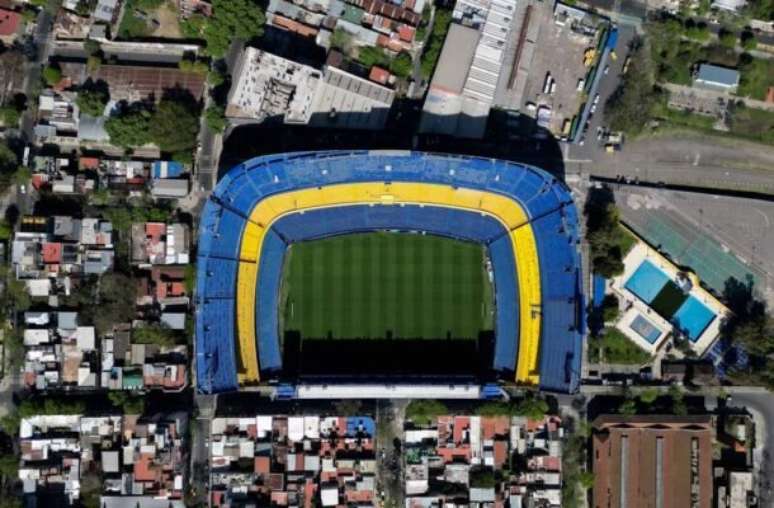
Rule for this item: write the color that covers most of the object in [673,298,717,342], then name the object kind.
blue swimming pool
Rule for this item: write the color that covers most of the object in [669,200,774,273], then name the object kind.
gray sports court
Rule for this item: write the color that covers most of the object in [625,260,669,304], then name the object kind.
blue swimming pool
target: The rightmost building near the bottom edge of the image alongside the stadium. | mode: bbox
[589,412,711,508]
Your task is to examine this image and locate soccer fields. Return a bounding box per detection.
[276,233,498,382]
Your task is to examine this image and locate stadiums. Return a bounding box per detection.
[195,150,583,399]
